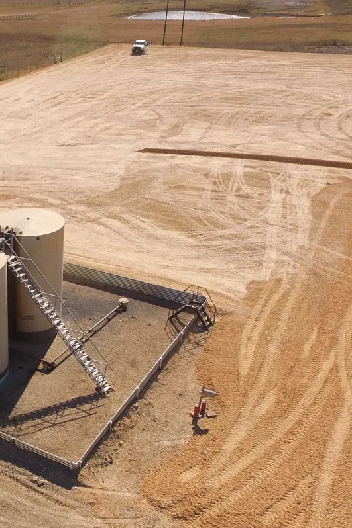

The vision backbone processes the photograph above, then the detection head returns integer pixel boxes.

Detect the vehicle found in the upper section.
[129,38,149,54]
